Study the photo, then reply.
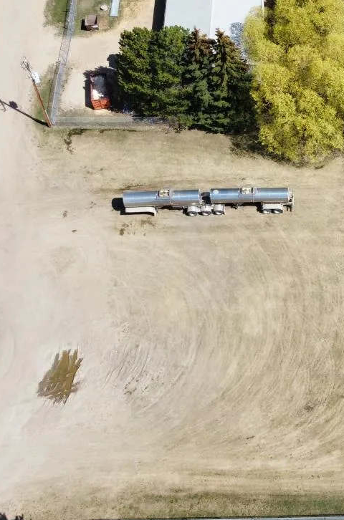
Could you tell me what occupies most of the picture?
paved ground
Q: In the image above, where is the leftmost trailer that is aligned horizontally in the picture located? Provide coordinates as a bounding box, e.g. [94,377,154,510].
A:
[121,183,224,216]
